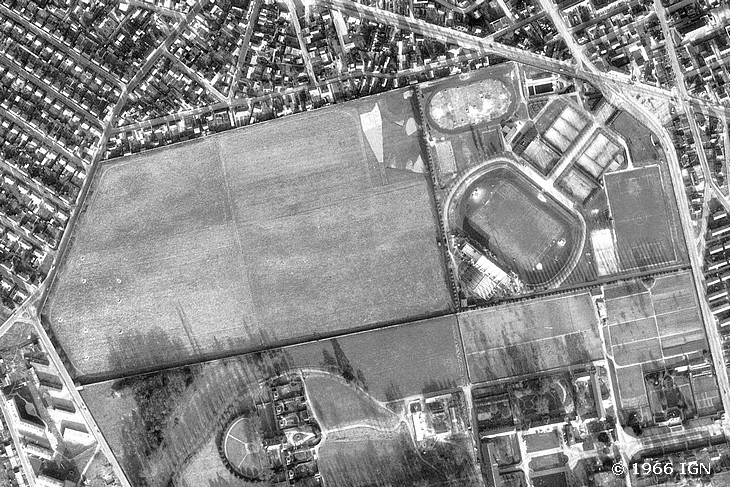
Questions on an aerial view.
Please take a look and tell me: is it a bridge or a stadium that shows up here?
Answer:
stadium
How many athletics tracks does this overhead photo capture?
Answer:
2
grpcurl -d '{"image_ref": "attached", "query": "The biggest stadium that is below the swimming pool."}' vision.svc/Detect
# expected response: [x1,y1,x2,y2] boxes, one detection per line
[451,163,582,287]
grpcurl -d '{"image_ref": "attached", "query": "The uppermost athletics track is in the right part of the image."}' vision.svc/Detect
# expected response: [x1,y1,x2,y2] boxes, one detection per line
[423,71,517,137]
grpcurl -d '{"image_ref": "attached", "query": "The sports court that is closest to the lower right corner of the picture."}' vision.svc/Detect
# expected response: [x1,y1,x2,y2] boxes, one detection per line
[588,225,620,280]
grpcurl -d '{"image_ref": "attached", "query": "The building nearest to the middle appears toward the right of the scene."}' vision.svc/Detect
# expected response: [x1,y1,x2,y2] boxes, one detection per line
[460,265,497,299]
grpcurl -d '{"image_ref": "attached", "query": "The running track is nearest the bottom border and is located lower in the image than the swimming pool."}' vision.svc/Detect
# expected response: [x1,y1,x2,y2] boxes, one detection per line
[460,173,573,277]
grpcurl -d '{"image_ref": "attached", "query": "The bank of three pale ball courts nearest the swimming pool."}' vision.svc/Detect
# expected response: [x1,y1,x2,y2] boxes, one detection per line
[540,103,592,156]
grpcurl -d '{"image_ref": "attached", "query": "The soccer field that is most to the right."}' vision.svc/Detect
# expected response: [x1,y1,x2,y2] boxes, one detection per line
[605,165,677,272]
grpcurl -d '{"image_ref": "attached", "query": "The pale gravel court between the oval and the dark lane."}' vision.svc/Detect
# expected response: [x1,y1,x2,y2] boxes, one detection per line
[433,138,460,176]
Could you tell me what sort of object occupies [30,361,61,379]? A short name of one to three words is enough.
building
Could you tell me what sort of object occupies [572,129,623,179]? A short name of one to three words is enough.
sports court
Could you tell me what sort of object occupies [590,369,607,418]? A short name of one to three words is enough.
shed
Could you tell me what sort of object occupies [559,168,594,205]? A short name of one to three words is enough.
sports court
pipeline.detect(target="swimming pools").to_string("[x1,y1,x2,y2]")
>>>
[525,76,557,98]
